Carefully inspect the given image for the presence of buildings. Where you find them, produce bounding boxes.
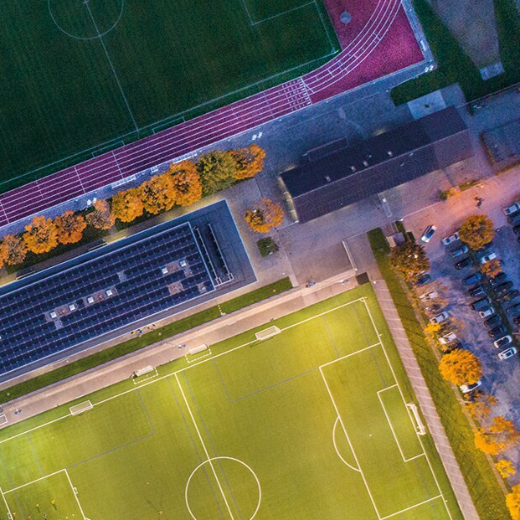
[386,233,407,248]
[278,105,475,221]
[0,199,281,384]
